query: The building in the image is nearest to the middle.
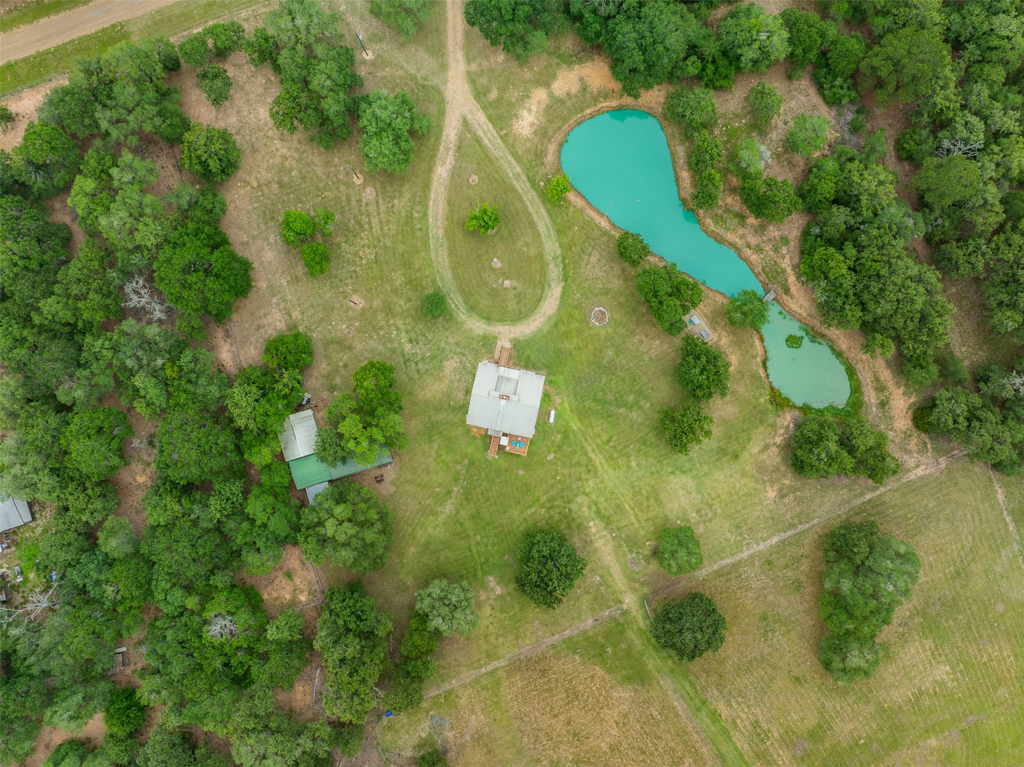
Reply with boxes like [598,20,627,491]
[467,345,545,456]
